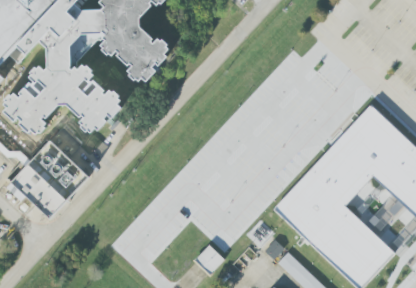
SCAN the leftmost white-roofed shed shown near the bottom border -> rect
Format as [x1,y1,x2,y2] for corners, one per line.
[194,244,225,276]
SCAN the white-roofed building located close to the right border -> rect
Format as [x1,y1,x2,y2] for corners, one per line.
[274,106,416,288]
